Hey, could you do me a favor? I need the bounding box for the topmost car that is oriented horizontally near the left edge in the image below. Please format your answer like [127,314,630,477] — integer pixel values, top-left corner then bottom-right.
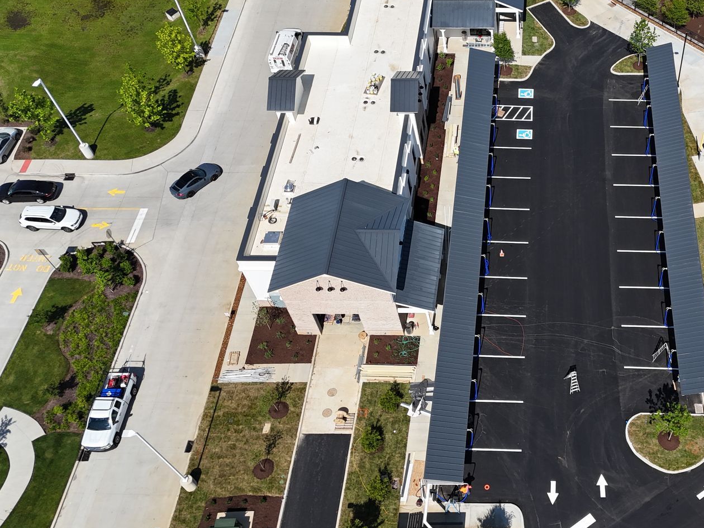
[0,178,60,205]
